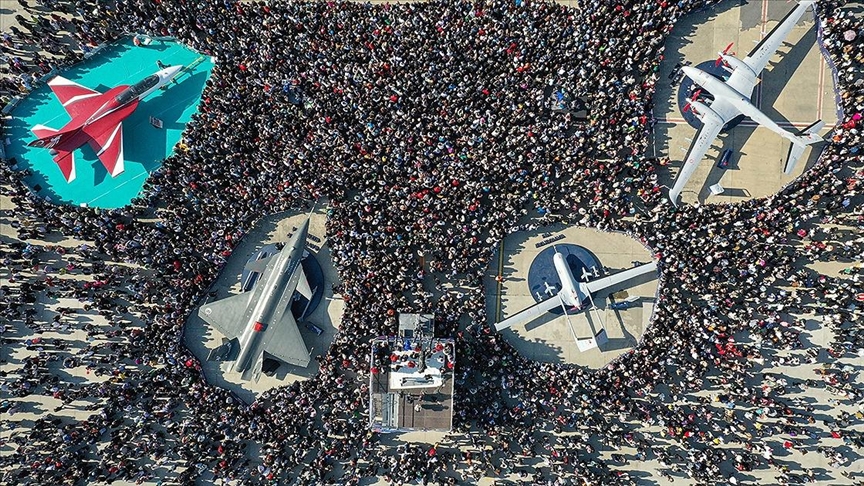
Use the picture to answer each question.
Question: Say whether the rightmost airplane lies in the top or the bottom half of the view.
top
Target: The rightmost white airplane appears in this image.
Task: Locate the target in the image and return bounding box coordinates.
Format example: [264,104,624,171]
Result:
[672,0,827,208]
